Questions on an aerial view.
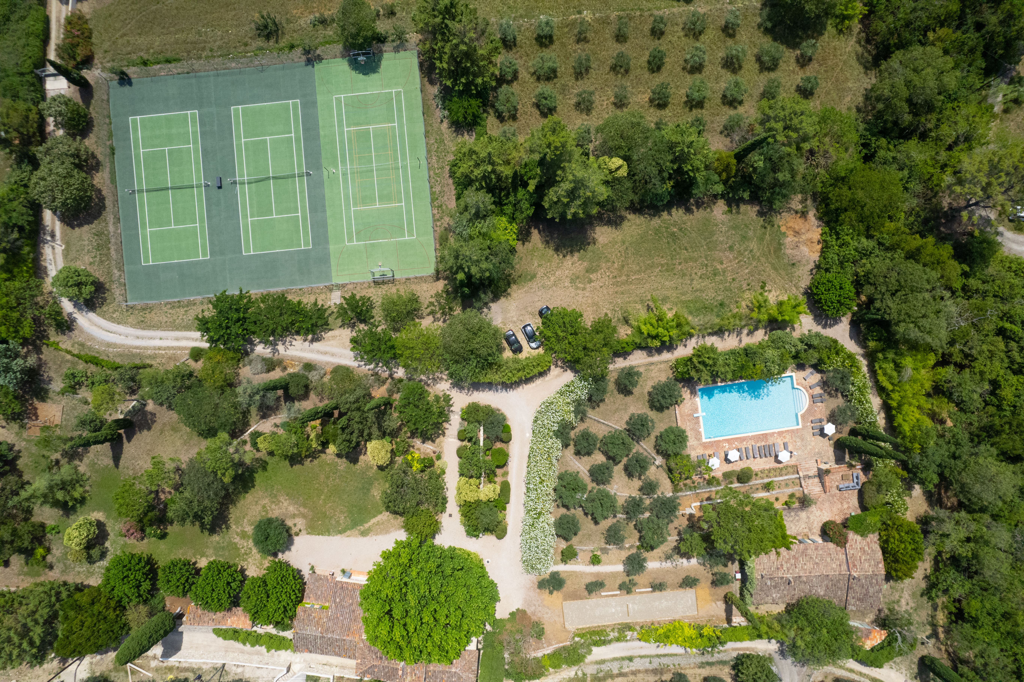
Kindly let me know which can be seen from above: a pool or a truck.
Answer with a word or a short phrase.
pool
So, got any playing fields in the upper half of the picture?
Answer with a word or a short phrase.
No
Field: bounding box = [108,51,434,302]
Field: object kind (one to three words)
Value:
sports court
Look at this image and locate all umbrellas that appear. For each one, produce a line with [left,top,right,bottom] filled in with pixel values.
[823,421,836,436]
[707,456,721,469]
[727,448,740,462]
[777,449,790,463]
